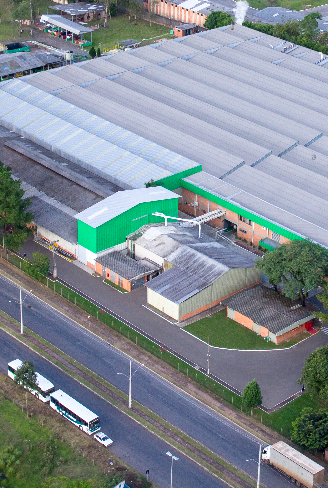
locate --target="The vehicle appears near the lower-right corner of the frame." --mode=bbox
[262,442,324,488]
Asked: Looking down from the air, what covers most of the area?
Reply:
buildings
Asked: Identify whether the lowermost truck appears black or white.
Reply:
white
